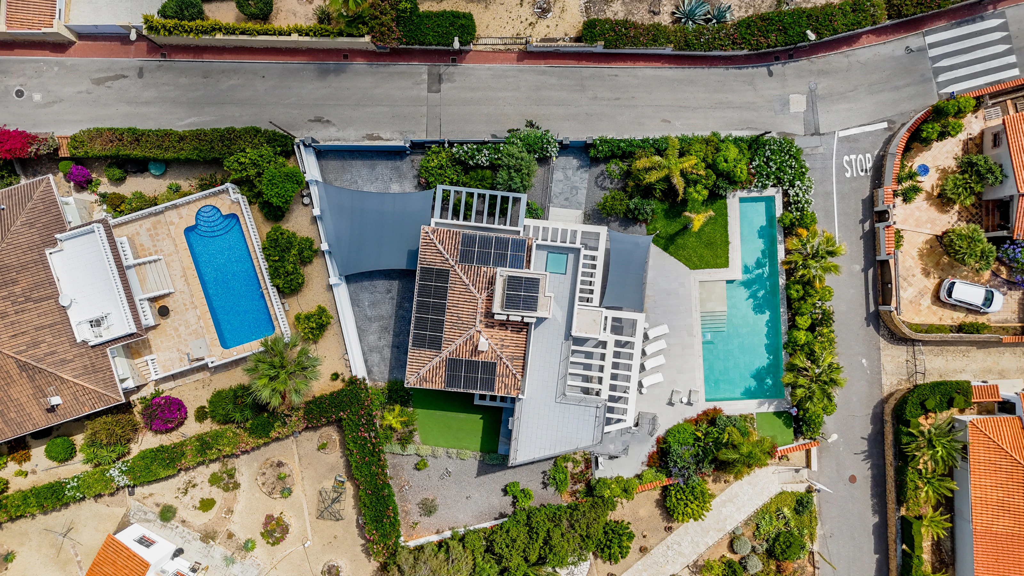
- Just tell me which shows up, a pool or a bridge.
pool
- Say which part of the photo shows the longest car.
right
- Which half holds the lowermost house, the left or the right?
left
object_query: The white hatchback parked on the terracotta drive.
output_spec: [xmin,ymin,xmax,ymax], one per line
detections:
[936,278,1002,314]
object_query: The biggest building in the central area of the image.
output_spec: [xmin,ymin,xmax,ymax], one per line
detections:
[403,185,646,470]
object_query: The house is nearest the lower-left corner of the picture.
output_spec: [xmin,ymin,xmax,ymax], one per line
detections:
[81,521,212,576]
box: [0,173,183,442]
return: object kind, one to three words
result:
house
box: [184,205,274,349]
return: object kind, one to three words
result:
swimming pool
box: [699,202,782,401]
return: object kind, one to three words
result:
swimming pool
